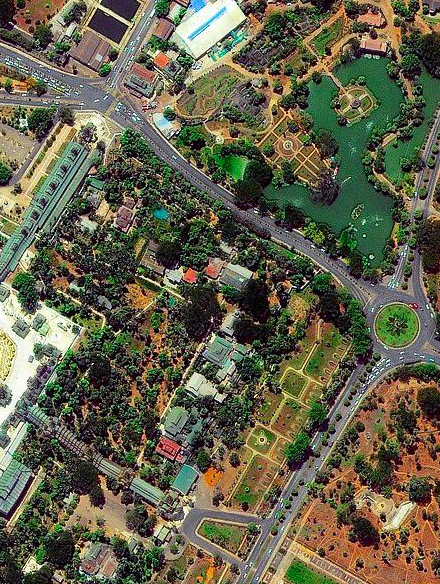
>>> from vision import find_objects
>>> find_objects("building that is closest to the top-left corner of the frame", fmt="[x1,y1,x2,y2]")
[69,31,110,71]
